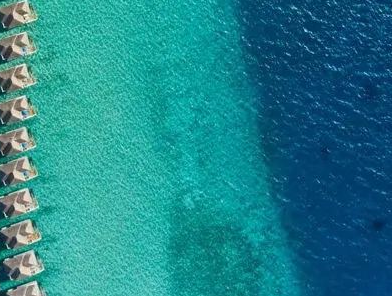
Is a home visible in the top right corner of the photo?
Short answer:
No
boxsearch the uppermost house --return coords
[0,0,38,29]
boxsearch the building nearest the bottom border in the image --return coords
[7,278,47,296]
